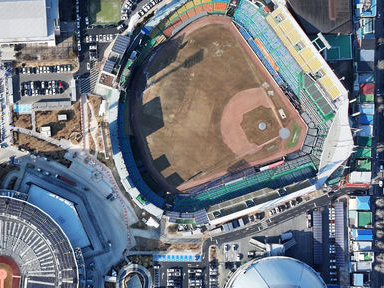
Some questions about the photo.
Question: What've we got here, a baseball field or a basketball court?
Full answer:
The one in the frame is a baseball field.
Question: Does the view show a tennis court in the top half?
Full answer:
Yes, you'll find a tennis court in the top half.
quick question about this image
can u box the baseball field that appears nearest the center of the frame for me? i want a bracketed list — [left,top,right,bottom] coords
[131,15,309,196]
